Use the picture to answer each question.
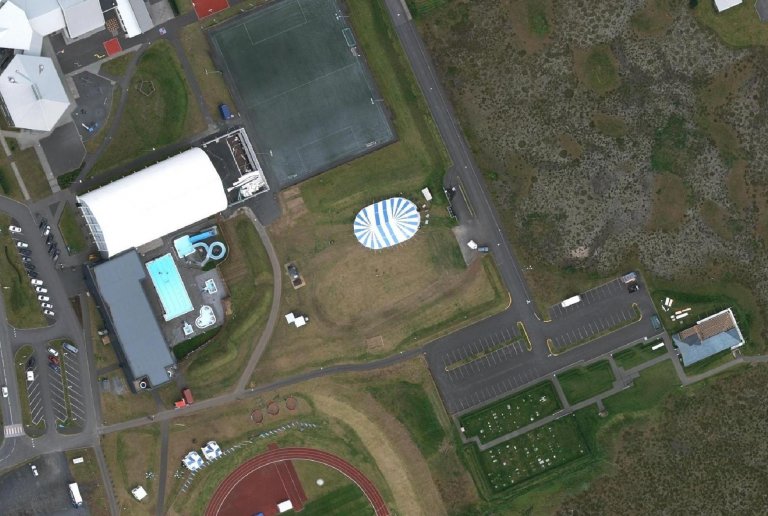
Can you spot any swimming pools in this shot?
Yes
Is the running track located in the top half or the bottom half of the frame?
bottom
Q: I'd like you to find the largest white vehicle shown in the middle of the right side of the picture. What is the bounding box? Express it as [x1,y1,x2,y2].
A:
[561,294,581,308]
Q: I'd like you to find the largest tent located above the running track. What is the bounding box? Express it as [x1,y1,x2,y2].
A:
[350,193,426,254]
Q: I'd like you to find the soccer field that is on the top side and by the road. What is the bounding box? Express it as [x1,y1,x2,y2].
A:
[206,0,398,189]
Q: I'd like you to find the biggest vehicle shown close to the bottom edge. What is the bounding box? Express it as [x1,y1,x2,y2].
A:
[69,482,82,506]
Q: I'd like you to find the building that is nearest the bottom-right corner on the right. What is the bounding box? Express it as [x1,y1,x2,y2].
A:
[673,306,746,367]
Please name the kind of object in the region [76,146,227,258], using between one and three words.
building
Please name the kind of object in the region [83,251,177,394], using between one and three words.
building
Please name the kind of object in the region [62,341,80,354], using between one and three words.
vehicle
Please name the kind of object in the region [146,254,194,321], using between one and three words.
swimming pool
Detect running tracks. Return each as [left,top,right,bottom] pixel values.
[205,443,388,516]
